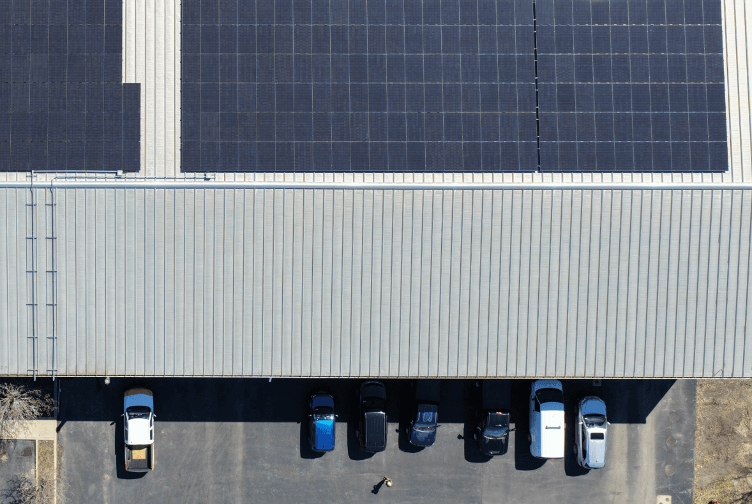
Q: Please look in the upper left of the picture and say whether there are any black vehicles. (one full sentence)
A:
No, I can find no black vehicle in the upper left of the picture.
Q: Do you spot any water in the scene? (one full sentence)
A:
No, no water is visible.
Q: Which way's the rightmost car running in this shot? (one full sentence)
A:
What the image shows is the rightmost car lying up and down.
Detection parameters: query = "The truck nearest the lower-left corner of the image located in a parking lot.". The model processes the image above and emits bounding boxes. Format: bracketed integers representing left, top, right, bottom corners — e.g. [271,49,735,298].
[120,386,156,472]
